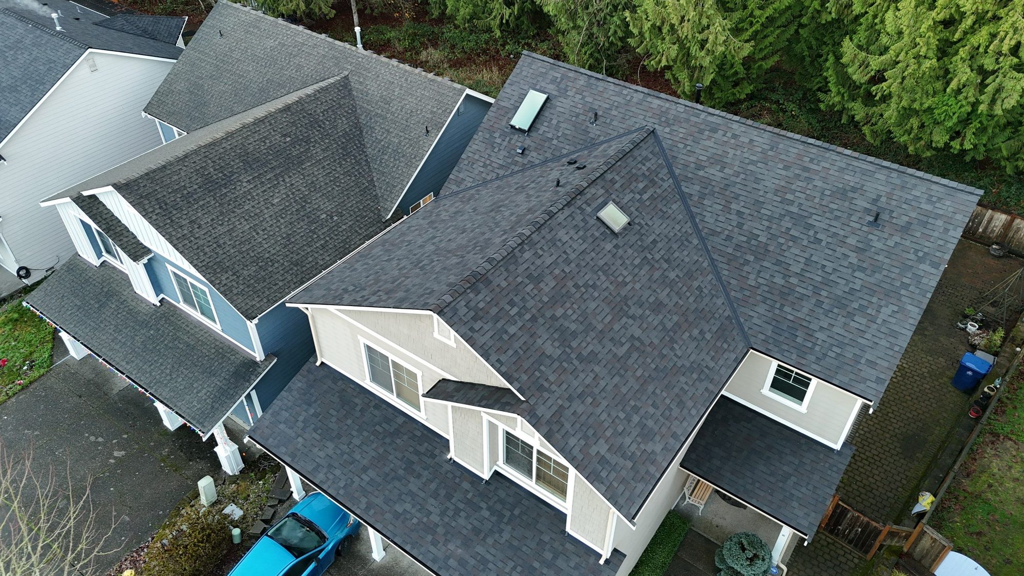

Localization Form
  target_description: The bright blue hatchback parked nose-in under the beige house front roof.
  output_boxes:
[219,490,361,576]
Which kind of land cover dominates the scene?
buildings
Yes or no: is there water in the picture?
No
